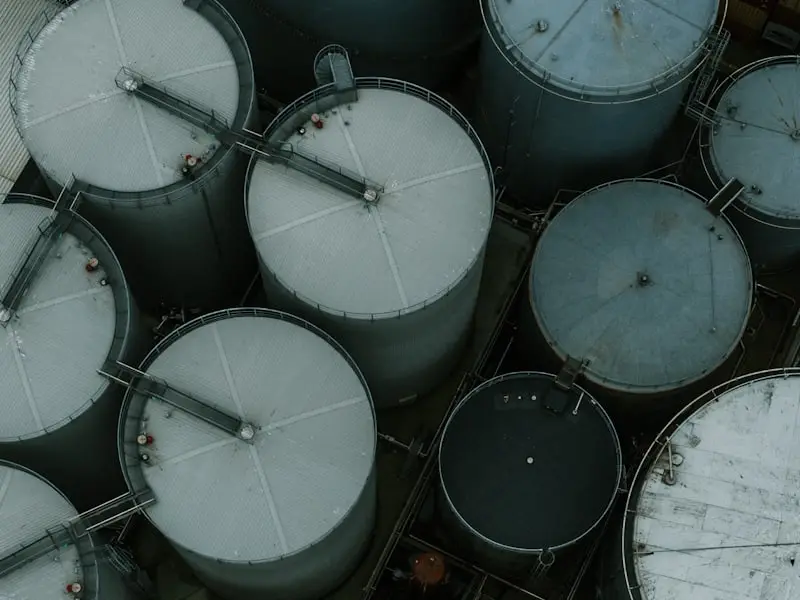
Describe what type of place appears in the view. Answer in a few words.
industrial area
